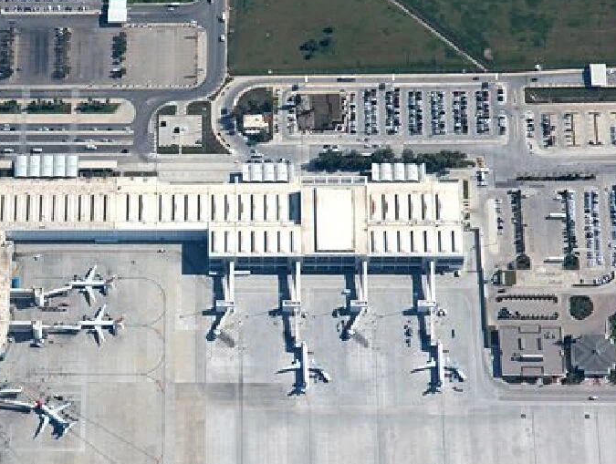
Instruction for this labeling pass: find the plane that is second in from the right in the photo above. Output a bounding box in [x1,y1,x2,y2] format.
[277,343,331,390]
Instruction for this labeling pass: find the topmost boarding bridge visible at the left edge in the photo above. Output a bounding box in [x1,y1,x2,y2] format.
[13,283,75,309]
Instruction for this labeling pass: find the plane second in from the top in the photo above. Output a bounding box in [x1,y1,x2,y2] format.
[84,306,123,345]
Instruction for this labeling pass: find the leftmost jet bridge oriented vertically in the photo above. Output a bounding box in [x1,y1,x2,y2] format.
[214,261,236,339]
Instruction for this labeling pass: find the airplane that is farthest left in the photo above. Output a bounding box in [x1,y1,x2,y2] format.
[37,393,76,432]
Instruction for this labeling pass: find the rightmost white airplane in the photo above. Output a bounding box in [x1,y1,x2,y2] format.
[414,343,467,389]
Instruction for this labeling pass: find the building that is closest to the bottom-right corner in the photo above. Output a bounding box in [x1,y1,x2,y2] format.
[570,337,616,376]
